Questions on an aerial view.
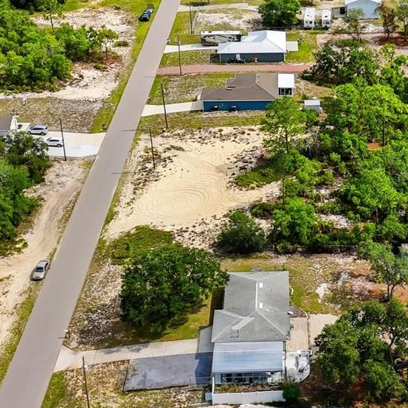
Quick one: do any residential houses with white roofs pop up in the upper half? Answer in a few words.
Yes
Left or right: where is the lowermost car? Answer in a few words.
left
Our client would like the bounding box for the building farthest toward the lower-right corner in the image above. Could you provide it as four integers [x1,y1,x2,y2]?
[209,270,289,387]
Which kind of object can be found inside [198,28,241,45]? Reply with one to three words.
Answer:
camper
